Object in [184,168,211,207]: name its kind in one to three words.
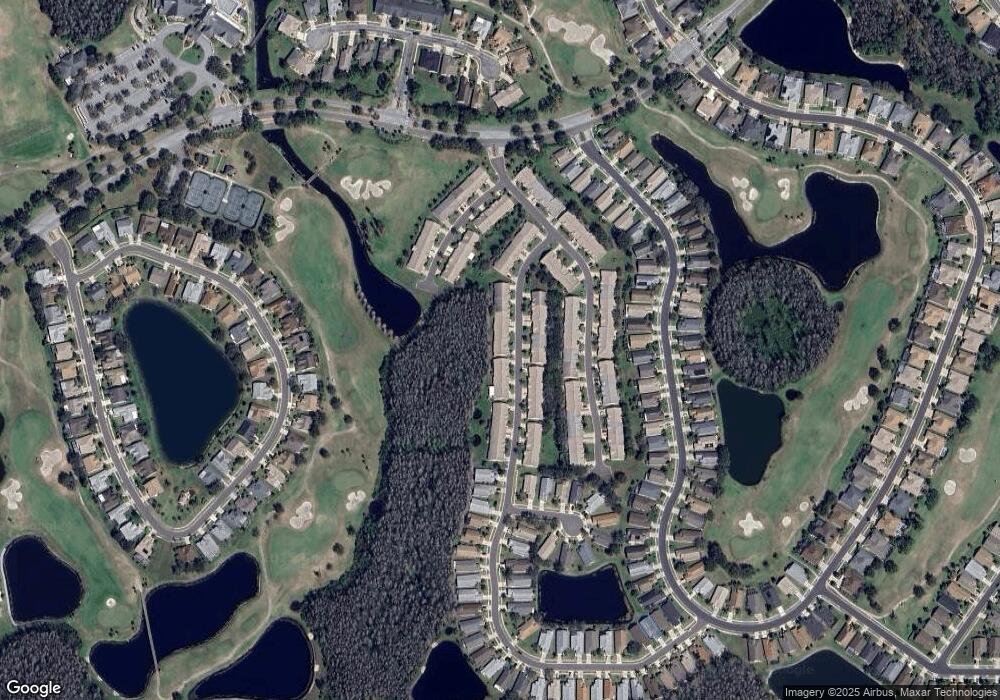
tennis court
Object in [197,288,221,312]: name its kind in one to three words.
house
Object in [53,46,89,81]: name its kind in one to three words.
building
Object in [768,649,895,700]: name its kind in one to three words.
pond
